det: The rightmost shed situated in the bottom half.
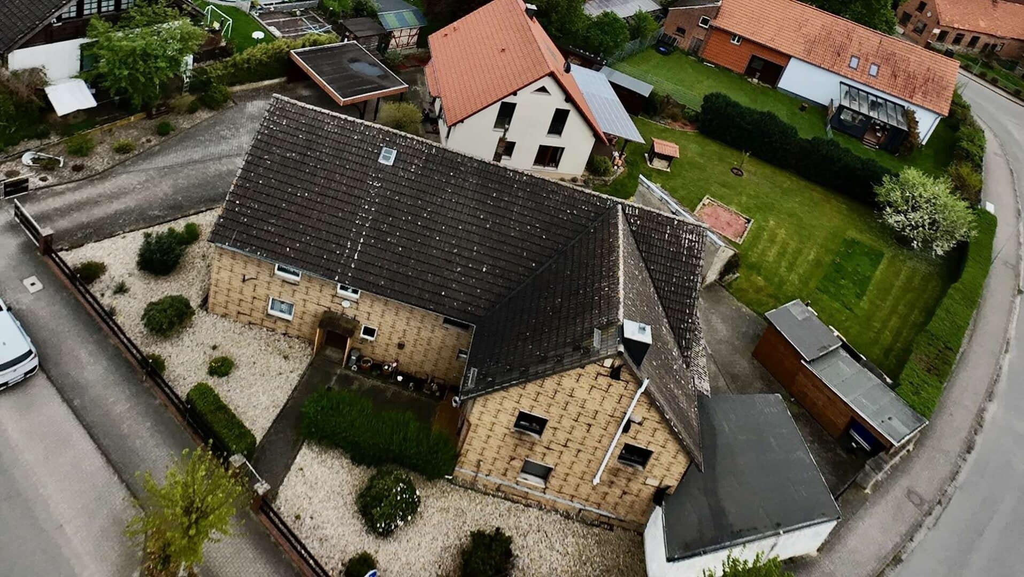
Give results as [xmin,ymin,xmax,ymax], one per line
[744,301,930,466]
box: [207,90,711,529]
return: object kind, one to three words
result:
house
